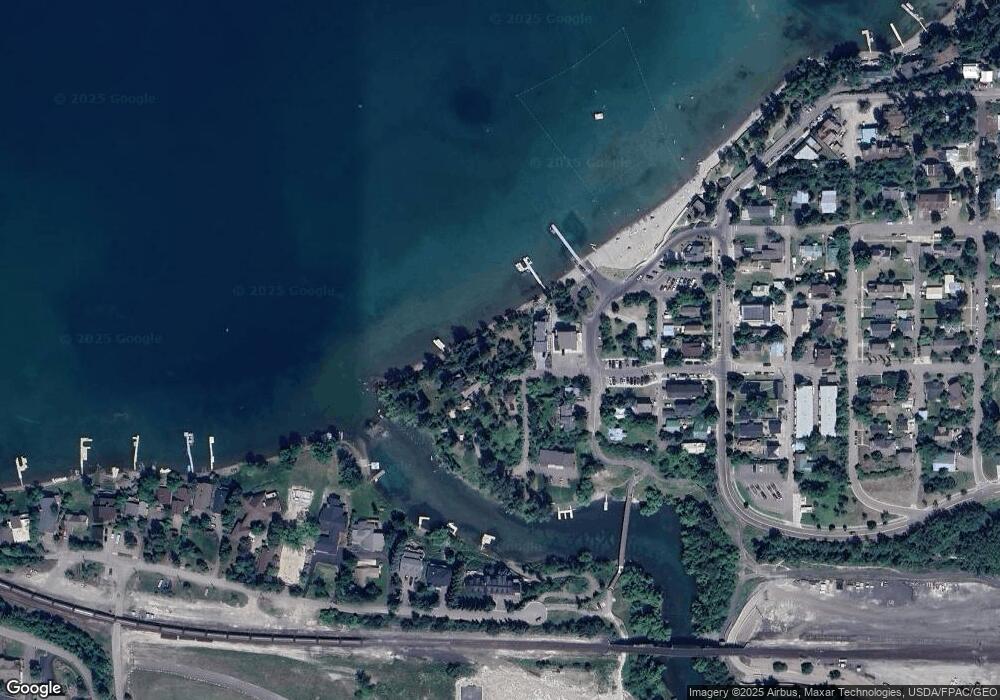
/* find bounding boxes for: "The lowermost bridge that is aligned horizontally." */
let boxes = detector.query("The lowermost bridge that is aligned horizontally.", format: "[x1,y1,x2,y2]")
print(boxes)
[608,641,746,659]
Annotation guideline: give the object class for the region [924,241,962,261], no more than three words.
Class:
house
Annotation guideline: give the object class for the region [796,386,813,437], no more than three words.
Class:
building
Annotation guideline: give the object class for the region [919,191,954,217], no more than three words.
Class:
building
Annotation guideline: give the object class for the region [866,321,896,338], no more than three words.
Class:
house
